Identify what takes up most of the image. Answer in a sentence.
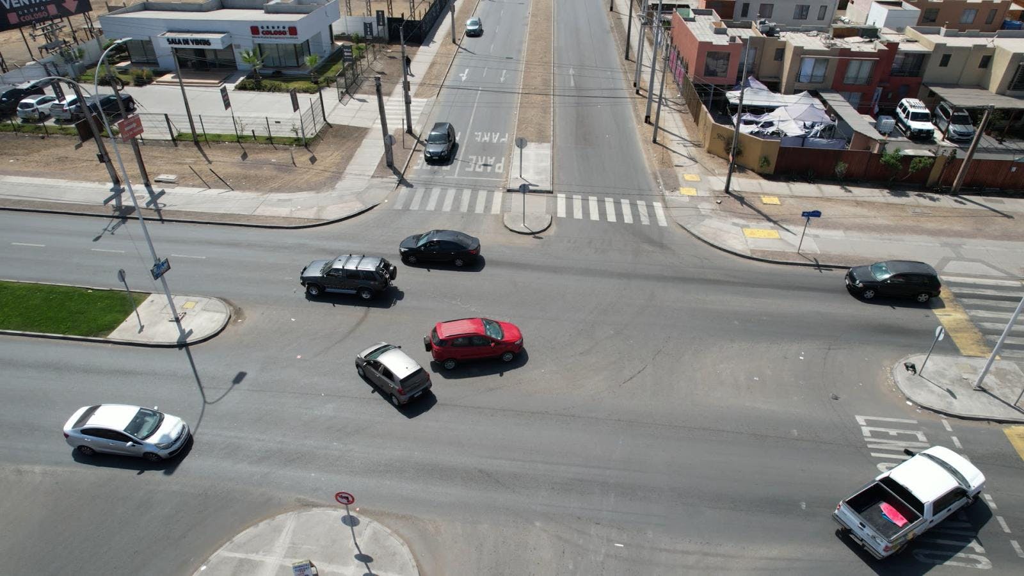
The largest share of the image is taken up by paved ground.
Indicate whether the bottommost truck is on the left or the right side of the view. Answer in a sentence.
The bottommost truck appears in the right half of the scene.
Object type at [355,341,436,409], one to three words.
car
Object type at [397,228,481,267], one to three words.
car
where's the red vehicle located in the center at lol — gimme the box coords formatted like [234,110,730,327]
[423,314,522,370]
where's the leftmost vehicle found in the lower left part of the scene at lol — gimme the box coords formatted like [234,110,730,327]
[60,401,189,462]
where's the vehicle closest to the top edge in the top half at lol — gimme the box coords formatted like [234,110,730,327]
[464,14,483,34]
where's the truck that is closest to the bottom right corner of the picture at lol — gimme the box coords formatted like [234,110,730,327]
[823,447,983,562]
